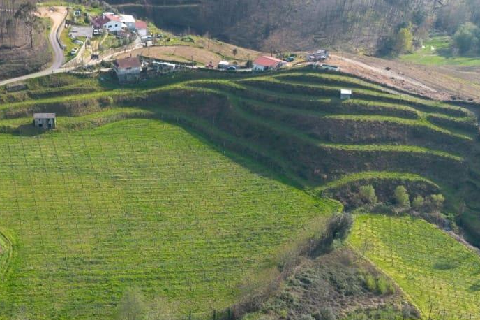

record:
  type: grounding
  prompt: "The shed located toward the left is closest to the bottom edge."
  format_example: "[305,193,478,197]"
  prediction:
[34,111,58,130]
